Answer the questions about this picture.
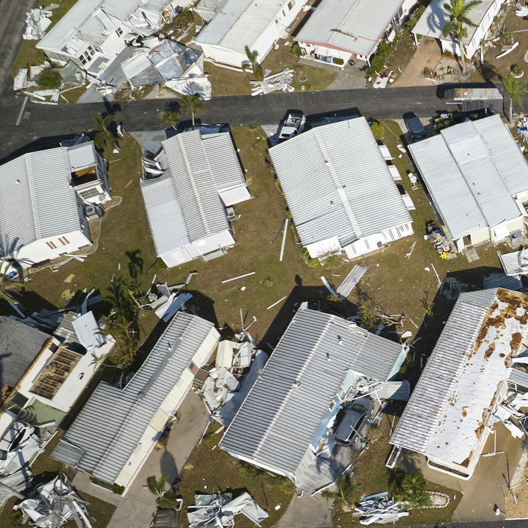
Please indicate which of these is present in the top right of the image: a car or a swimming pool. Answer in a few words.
car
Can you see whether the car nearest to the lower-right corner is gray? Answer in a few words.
Yes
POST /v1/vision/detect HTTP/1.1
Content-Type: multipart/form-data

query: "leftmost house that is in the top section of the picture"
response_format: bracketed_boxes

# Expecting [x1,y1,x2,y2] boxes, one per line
[0,139,113,269]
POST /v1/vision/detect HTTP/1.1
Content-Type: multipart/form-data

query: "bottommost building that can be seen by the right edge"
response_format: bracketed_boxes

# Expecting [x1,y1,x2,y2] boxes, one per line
[389,287,528,474]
